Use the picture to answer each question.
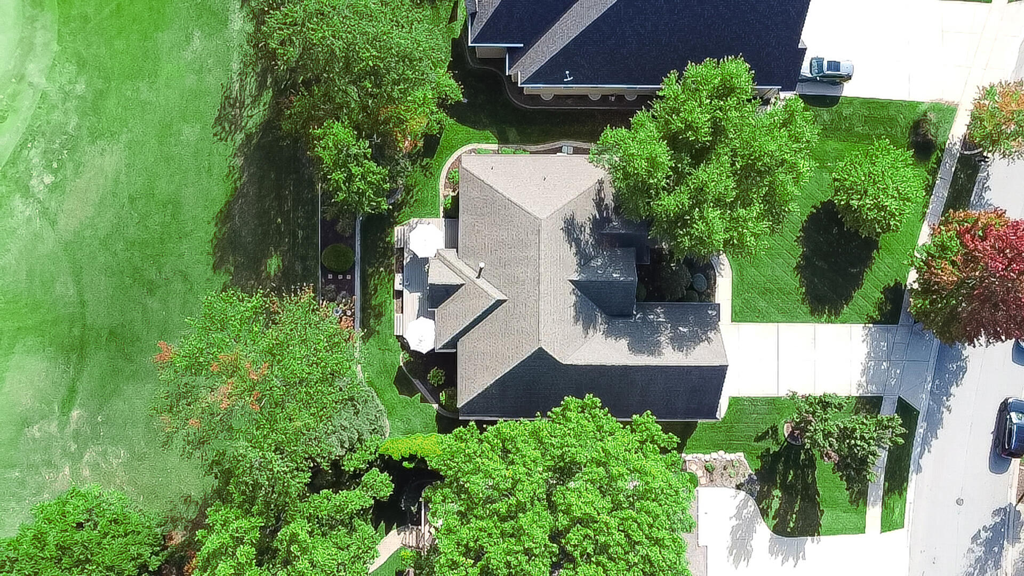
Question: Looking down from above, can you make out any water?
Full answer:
No, no water is visible.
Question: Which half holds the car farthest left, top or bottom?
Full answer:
The car farthest left sits in the top half of the picture.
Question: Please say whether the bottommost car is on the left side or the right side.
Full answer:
The bottommost car appears in the right half of the scene.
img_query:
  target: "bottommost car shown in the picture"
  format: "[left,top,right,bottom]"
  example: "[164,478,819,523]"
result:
[994,399,1024,457]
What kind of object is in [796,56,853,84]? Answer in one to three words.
car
